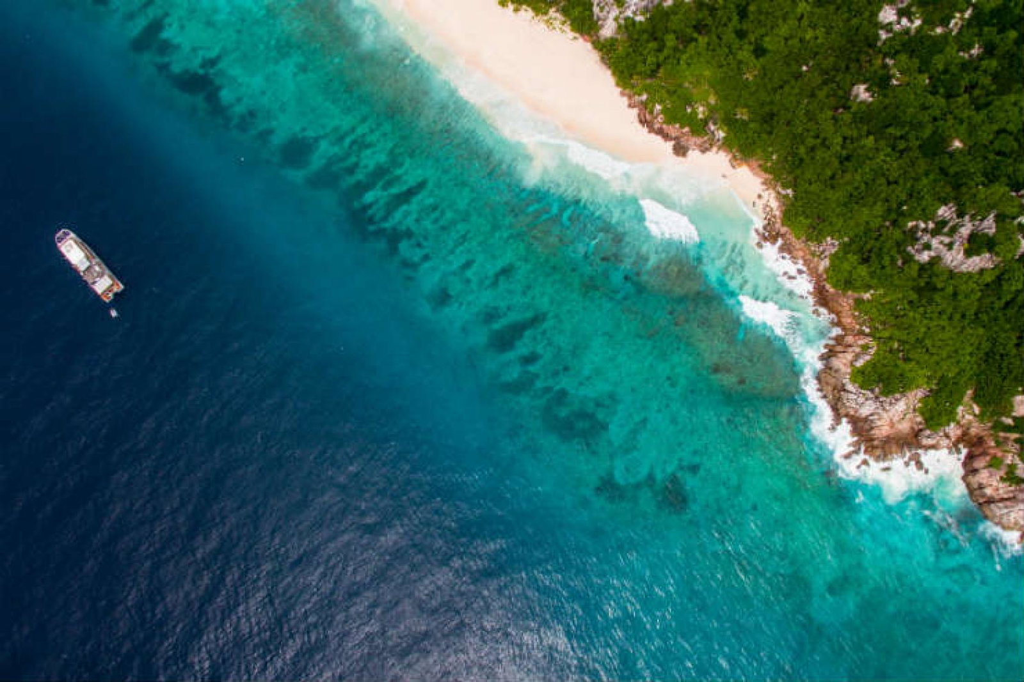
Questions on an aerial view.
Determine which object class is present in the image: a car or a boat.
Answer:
boat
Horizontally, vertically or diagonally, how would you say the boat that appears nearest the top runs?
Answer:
diagonally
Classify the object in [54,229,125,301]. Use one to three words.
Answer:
boat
